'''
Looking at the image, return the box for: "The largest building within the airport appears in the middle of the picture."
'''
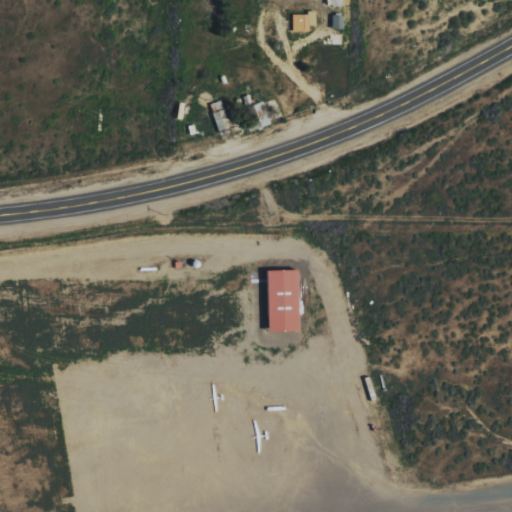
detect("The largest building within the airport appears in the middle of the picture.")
[268,270,302,332]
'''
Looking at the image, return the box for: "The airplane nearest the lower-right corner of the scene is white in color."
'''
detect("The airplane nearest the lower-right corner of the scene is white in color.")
[252,420,270,454]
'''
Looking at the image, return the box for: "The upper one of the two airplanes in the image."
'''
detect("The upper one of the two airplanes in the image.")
[211,384,225,414]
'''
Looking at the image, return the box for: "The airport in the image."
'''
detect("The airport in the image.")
[0,234,512,512]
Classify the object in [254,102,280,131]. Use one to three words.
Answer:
house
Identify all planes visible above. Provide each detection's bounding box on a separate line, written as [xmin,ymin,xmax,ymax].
[211,384,225,414]
[252,420,270,454]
